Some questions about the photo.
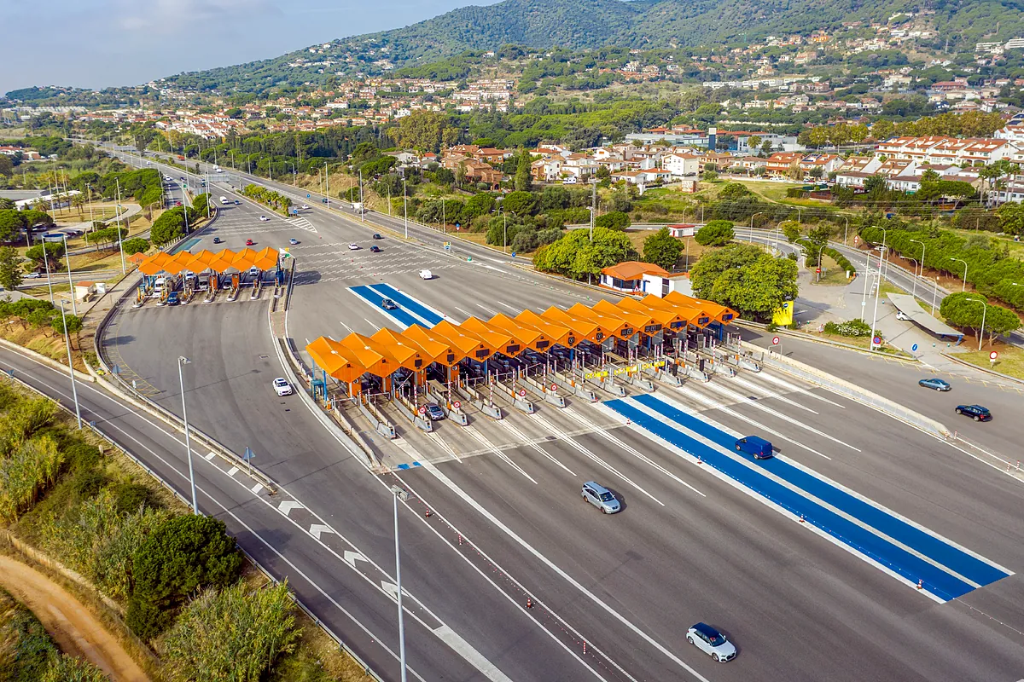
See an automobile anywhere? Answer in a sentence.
Yes, looking at the shot, I can spot an automobile.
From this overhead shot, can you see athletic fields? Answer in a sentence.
No, I can't see a single athletic field in this photo.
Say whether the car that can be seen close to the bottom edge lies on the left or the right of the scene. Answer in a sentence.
The car that can be seen close to the bottom edge sits on the right side.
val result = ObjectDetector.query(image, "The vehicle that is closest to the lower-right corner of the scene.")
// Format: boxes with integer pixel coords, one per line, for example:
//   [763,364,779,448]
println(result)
[955,401,995,420]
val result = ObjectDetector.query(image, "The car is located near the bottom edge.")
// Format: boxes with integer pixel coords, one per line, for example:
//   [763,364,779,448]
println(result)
[684,619,738,659]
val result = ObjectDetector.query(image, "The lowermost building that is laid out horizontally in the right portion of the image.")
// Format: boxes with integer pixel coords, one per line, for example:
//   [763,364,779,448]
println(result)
[591,262,684,299]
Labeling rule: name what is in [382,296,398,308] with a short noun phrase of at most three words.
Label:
vehicle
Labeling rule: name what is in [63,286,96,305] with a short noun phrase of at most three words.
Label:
shed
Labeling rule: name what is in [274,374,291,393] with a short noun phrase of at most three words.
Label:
car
